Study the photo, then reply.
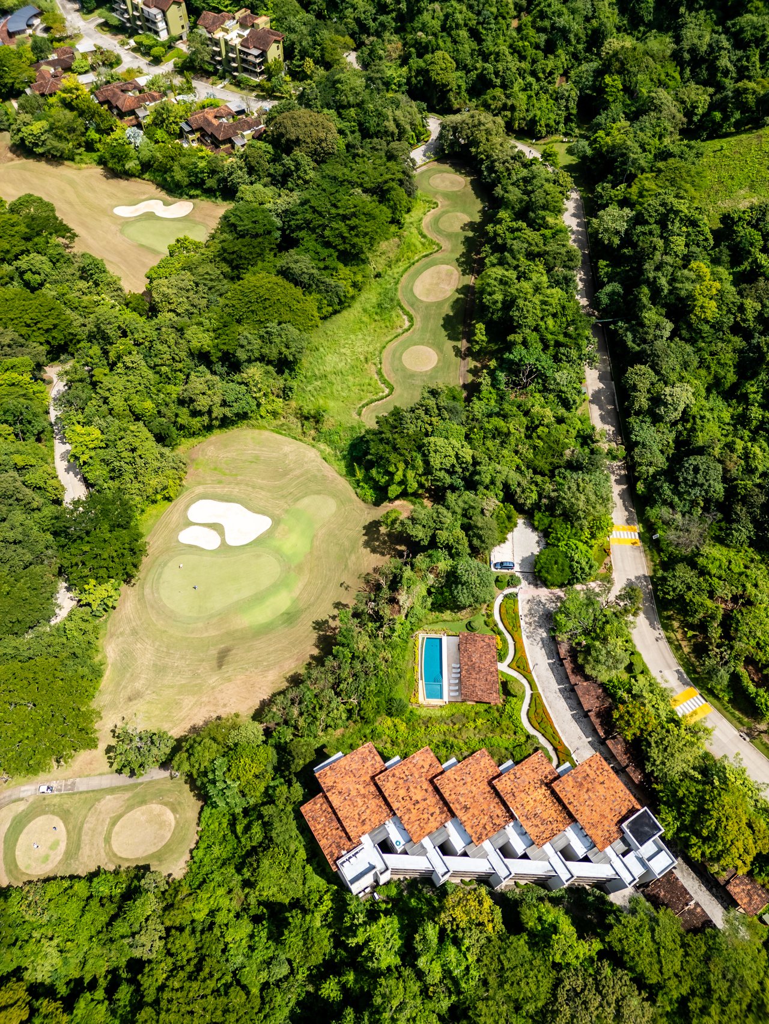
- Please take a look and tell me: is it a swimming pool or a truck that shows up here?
swimming pool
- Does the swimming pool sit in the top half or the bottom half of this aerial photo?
bottom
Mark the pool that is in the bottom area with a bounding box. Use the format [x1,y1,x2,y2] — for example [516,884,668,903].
[418,633,487,706]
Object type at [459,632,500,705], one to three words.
building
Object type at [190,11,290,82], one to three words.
building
